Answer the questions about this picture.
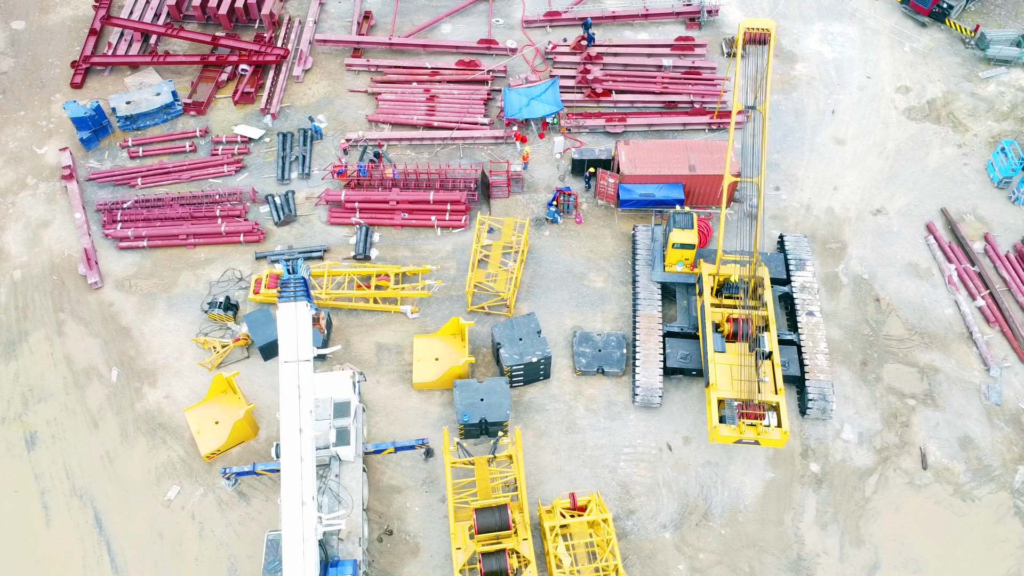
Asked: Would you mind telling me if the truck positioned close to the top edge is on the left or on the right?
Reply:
right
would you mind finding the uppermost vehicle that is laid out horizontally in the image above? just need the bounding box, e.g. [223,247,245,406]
[894,0,982,47]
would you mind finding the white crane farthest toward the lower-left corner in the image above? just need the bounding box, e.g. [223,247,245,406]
[218,259,435,576]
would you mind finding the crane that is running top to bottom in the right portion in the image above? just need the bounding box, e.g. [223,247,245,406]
[630,17,831,449]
